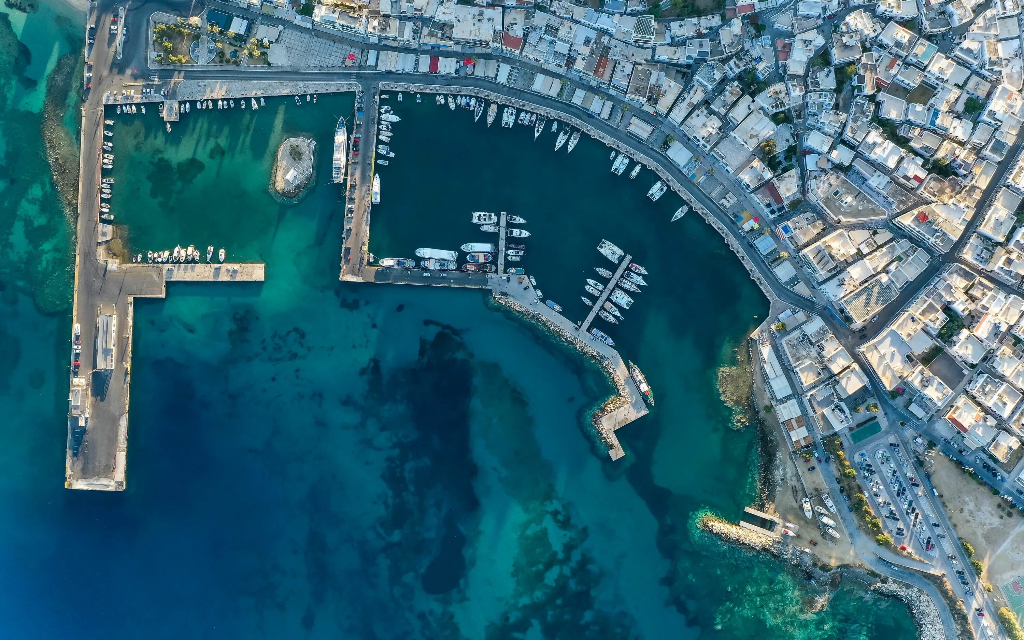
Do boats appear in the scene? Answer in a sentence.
Yes, looking at the shot, I can spot a boat.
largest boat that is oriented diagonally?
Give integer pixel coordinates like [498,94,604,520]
[629,362,657,403]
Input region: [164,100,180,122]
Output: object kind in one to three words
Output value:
pier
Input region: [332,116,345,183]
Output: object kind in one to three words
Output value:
ship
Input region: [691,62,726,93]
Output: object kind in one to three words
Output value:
building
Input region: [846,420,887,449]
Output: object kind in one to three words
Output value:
sports court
